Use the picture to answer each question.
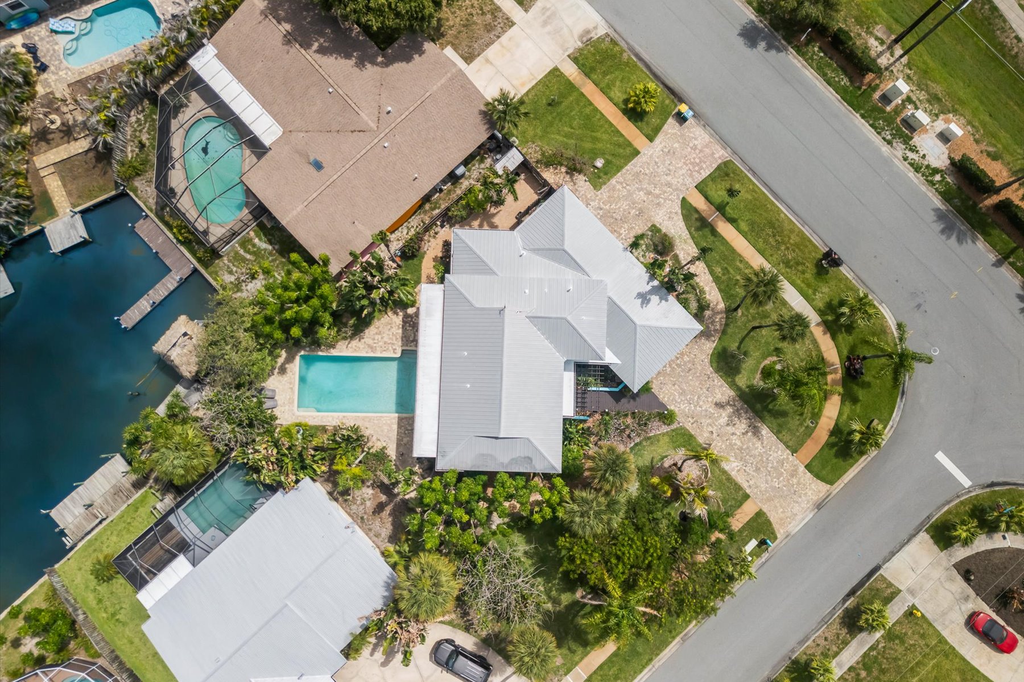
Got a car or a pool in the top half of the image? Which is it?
pool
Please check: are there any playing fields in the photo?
No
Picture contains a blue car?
No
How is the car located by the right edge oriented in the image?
on a diagonal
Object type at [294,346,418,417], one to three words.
swimming pool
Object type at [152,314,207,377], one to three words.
shed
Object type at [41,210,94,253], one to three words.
pier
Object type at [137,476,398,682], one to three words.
house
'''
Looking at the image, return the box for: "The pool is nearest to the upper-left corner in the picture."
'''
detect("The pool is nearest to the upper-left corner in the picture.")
[54,0,163,69]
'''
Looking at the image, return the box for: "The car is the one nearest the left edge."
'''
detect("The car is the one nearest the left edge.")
[431,638,494,682]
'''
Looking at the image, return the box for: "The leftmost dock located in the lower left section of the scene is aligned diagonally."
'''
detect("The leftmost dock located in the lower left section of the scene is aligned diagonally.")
[46,453,149,544]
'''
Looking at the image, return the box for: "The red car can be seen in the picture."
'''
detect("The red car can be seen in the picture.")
[966,608,1020,654]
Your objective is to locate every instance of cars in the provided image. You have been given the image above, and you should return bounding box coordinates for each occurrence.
[966,608,1020,654]
[431,638,494,682]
